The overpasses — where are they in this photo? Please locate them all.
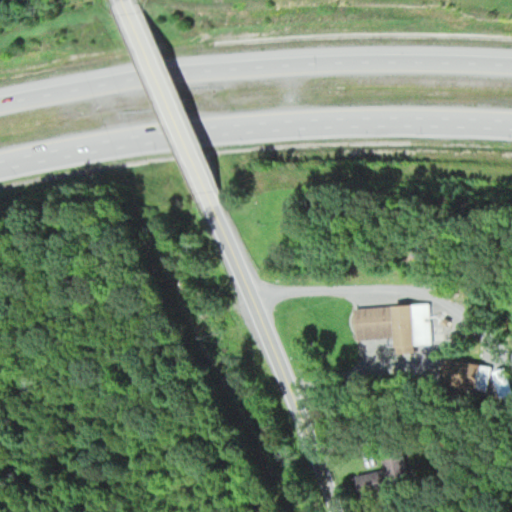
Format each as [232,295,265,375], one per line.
[108,0,224,212]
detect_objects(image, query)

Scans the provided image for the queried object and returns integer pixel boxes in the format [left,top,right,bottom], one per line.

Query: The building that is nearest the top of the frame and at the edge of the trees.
[354,303,433,354]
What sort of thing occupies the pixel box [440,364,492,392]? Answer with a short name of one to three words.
house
